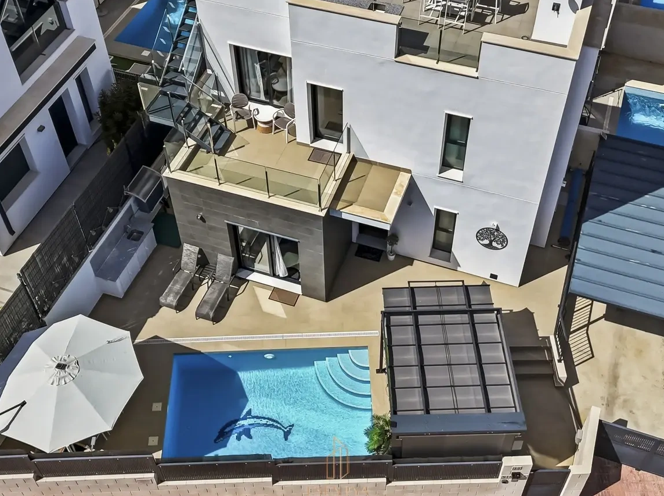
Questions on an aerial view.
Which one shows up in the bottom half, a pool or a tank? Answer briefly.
pool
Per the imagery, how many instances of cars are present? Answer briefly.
0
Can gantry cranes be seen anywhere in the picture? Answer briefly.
No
